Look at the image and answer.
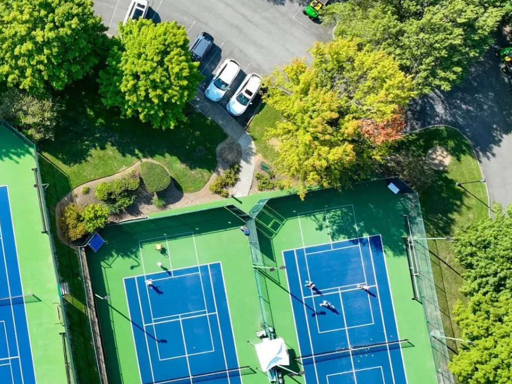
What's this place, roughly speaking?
sports ground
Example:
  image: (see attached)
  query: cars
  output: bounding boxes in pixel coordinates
[115,0,148,39]
[227,73,263,116]
[189,28,220,74]
[204,59,241,102]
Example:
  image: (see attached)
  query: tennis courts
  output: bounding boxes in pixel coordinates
[249,177,439,384]
[88,194,276,384]
[0,127,75,384]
